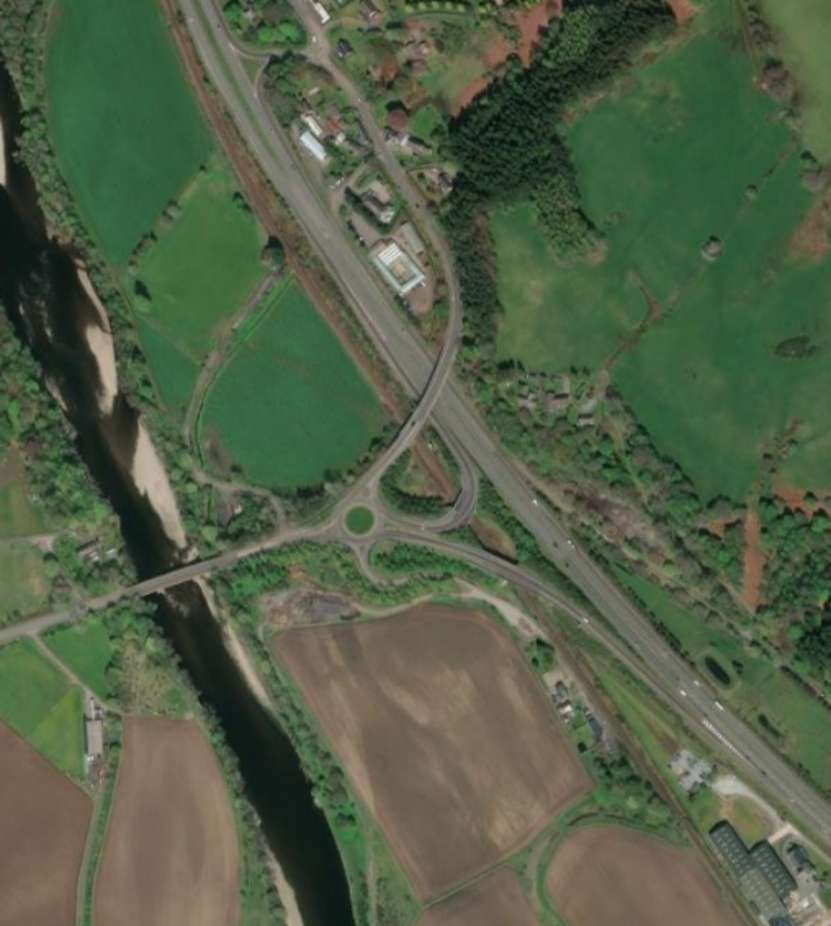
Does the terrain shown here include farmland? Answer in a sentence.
Yes, farmland shows up in the scene.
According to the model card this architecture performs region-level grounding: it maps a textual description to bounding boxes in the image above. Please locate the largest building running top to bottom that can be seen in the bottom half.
[86,720,102,756]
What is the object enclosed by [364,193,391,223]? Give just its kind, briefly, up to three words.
house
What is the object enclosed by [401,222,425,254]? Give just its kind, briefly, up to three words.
shed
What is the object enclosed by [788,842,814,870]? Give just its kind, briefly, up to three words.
house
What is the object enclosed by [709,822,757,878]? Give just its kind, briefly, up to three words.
building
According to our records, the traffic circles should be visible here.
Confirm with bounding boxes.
[334,485,406,556]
